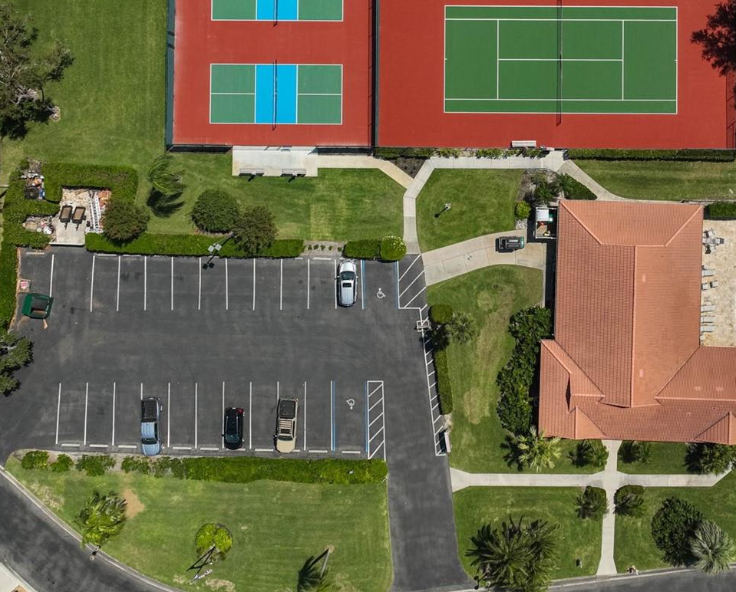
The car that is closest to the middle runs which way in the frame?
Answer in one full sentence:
The car that is closest to the middle has been laid out vertically relative to the frame.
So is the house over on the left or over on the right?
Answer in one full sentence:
The house is on the right side of the image.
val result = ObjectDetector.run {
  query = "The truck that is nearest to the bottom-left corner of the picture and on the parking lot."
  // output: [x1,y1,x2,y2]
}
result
[134,398,161,458]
